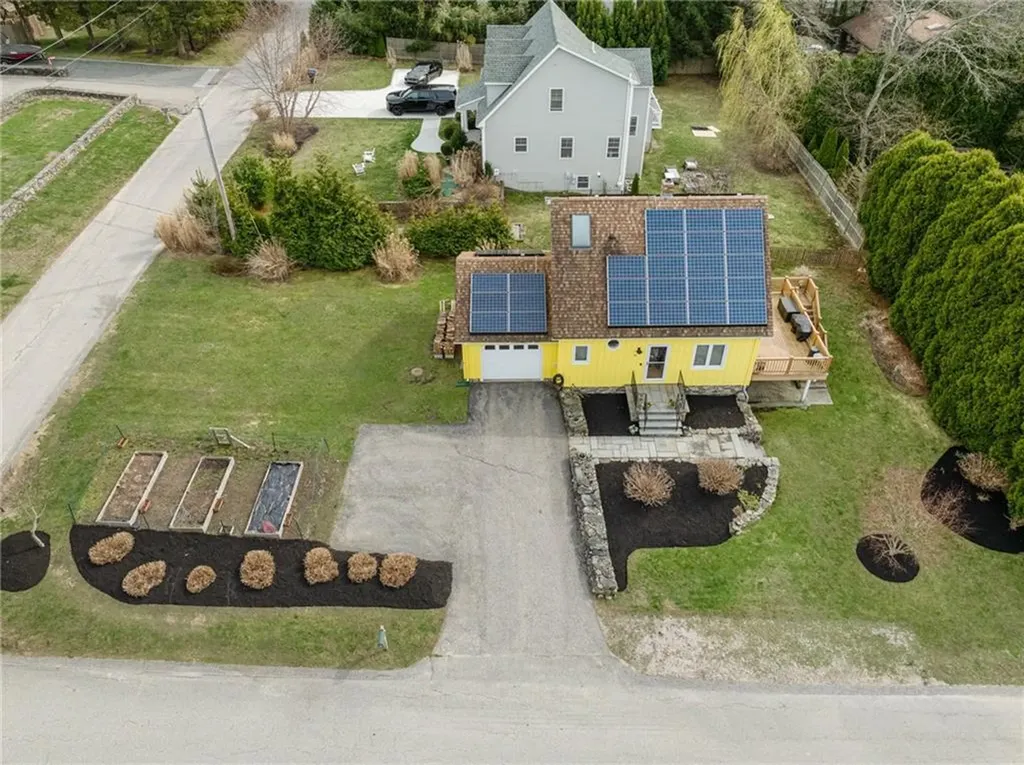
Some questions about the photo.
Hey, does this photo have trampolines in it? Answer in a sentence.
No, no trampoline can be seen from above.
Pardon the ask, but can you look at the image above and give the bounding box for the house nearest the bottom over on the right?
[455,193,778,401]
